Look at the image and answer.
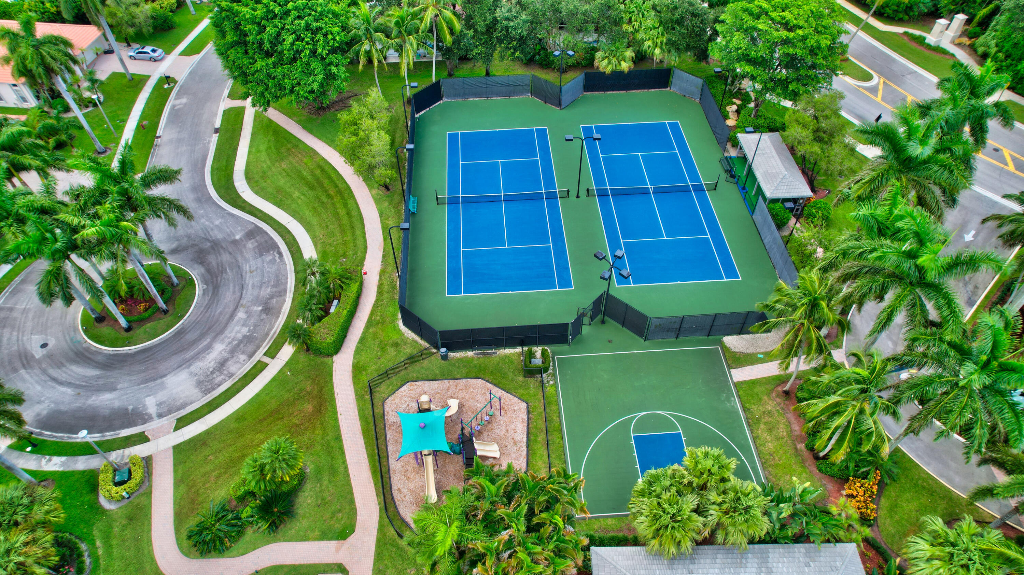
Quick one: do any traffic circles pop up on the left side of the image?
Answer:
Yes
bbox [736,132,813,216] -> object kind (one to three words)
building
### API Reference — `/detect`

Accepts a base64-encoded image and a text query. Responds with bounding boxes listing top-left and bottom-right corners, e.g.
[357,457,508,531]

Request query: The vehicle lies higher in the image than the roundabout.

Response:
[125,44,165,62]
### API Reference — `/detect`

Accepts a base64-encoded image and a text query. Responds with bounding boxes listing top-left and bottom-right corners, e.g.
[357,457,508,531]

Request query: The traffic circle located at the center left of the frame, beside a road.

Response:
[77,262,199,349]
